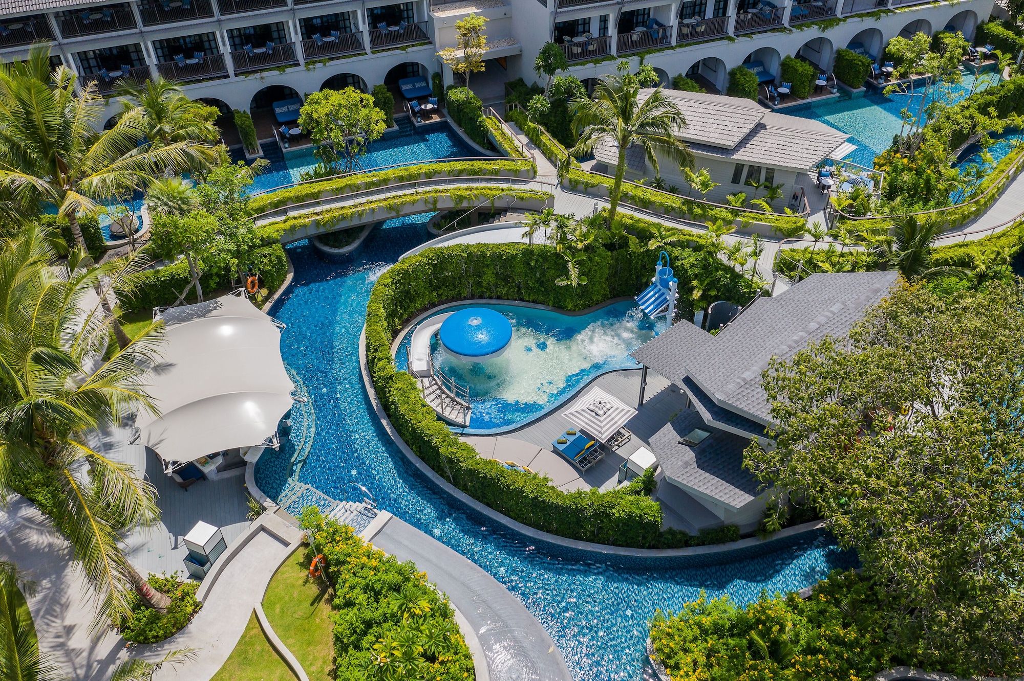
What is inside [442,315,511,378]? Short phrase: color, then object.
blue fountain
